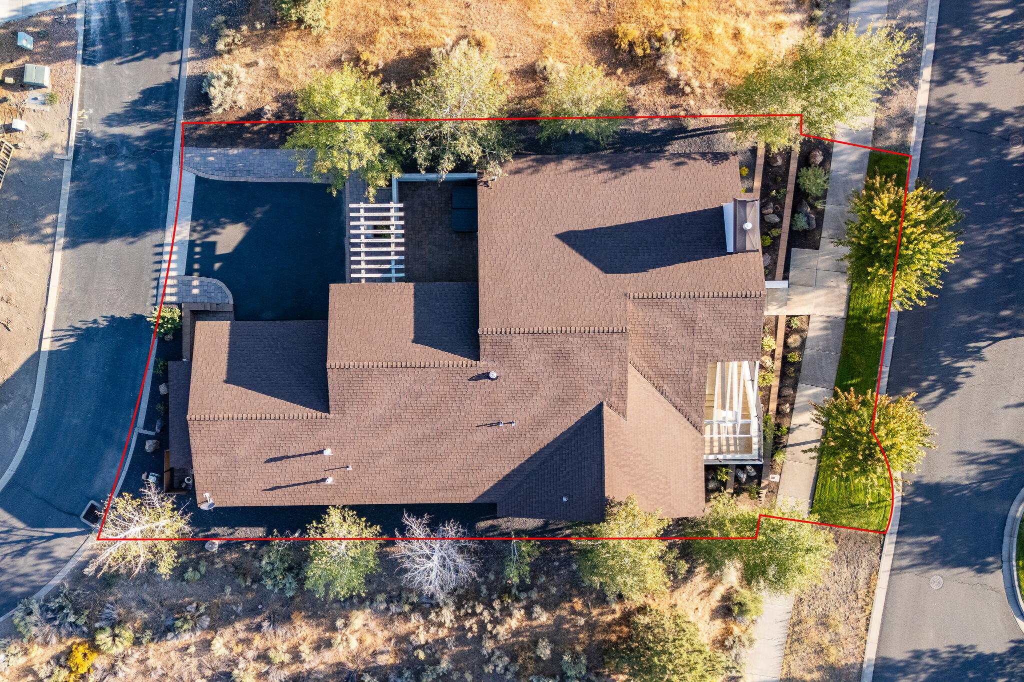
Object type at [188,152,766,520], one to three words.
house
